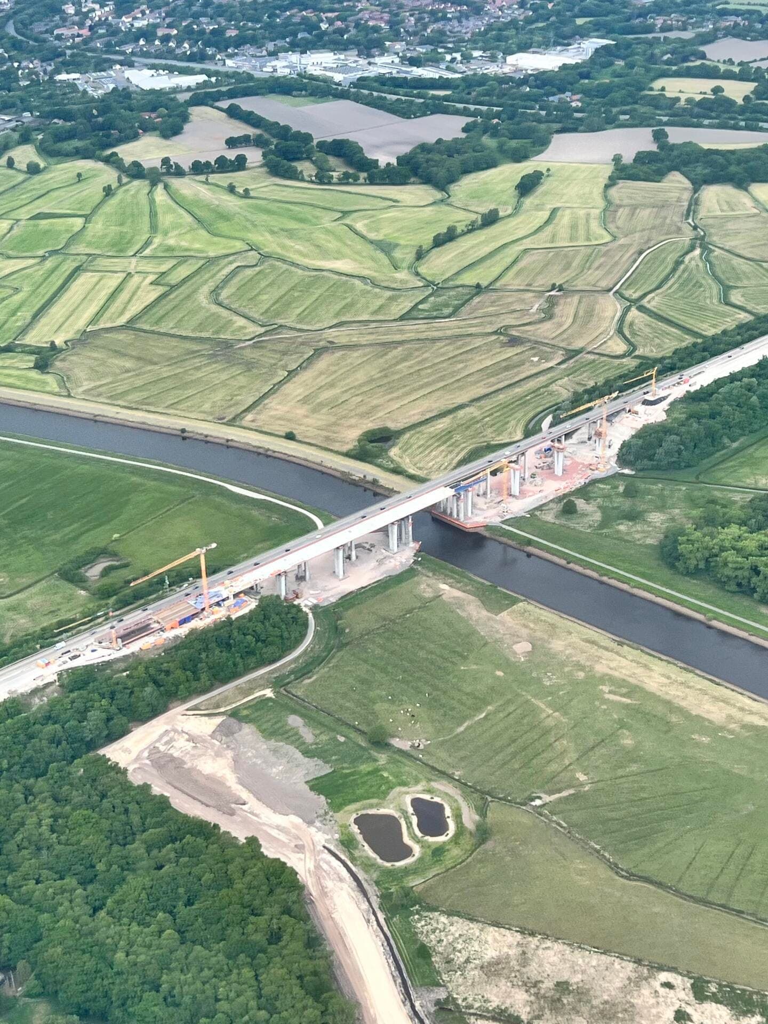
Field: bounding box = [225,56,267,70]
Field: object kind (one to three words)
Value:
building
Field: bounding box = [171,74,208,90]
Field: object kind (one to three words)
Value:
building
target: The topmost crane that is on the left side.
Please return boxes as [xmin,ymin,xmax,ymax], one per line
[131,540,222,614]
